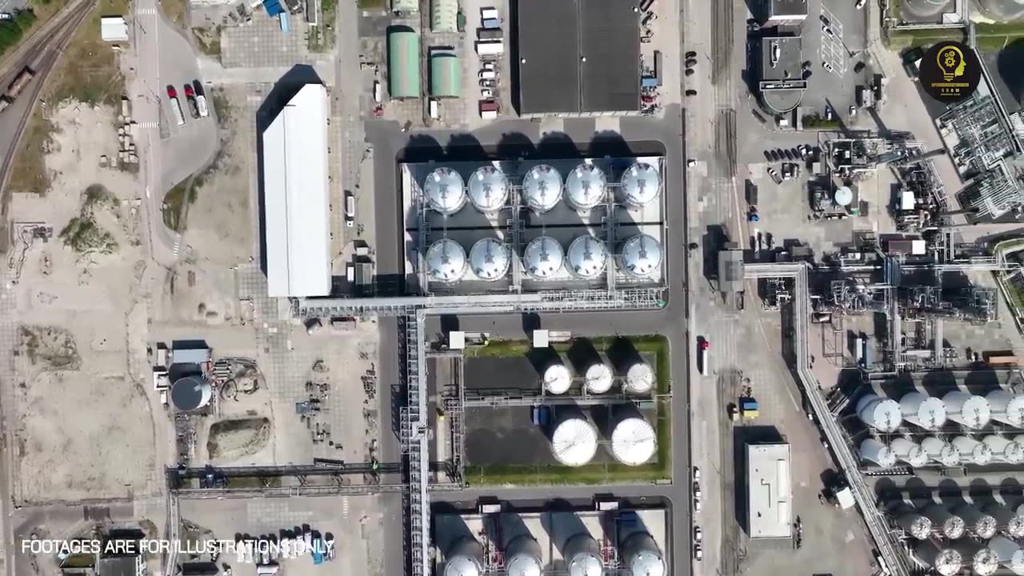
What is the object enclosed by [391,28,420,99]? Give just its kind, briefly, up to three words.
building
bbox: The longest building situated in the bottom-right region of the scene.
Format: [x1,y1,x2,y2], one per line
[743,440,791,538]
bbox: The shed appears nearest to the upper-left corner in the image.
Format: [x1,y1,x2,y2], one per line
[101,18,129,41]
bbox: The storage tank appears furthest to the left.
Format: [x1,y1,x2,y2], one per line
[171,375,214,410]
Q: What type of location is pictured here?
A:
industrial area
